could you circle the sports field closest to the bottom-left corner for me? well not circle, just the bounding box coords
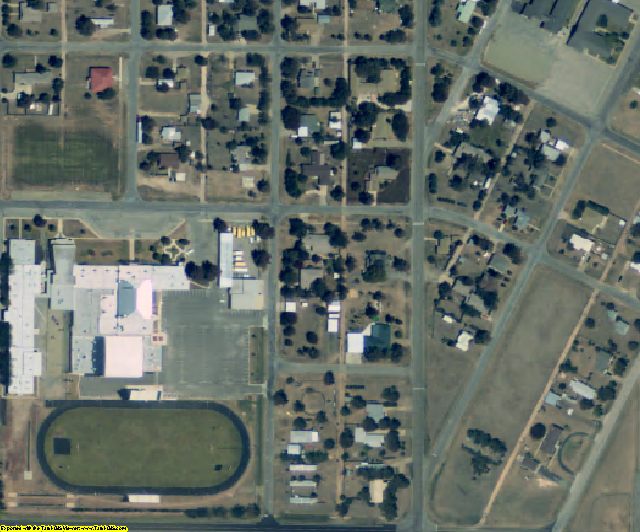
[45,408,242,486]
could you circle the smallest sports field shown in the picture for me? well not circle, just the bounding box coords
[12,124,119,188]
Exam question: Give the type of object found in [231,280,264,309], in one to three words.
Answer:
building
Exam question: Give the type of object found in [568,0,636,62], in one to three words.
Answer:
building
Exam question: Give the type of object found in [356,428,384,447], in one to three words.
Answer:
house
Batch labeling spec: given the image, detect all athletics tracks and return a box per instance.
[38,400,250,494]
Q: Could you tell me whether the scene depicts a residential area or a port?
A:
residential area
